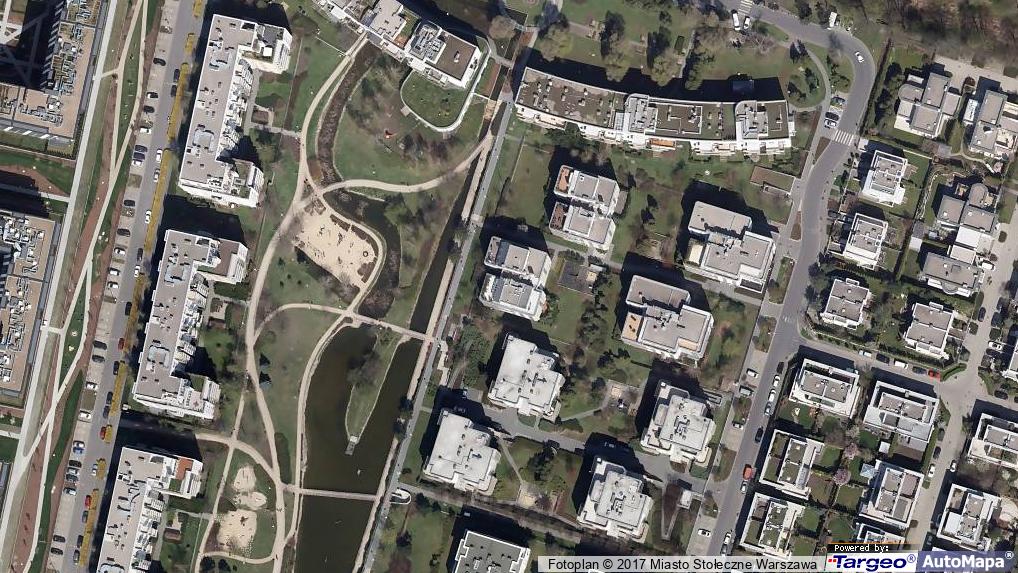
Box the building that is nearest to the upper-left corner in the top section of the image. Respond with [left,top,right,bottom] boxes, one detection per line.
[0,0,113,151]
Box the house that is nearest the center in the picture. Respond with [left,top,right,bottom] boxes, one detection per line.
[477,237,550,326]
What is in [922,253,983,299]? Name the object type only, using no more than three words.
house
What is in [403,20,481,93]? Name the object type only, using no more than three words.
building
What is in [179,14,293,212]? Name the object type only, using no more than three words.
building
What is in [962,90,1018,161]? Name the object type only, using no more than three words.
house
